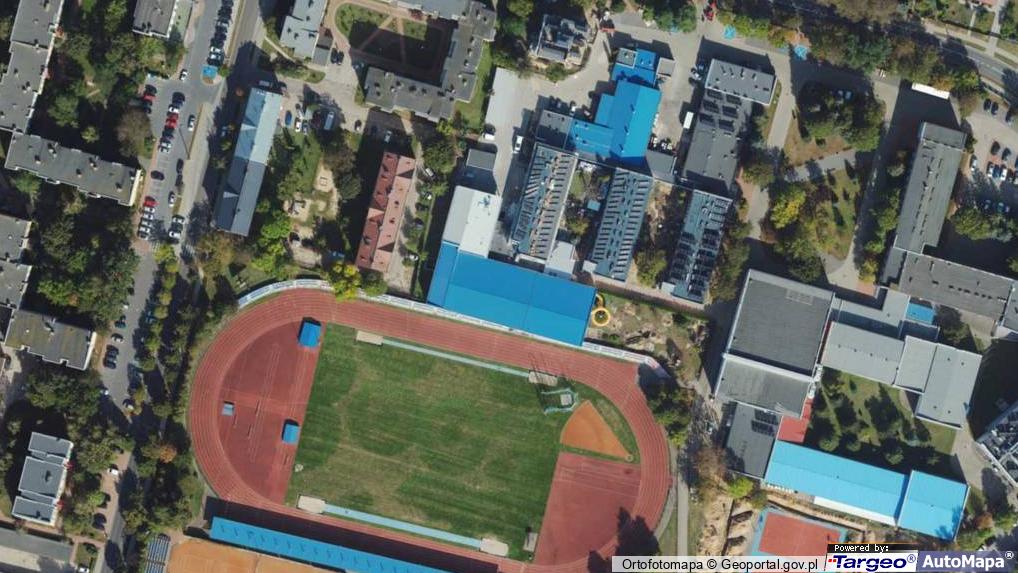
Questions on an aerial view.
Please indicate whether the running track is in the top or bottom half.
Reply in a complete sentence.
Seen from above, the running track lies in the bottom half of the view.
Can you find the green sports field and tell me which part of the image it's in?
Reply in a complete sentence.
The green sports field is in the bottom part of the image.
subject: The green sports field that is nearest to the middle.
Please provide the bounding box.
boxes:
[284,322,638,565]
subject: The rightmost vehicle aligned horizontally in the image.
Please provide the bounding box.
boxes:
[911,84,949,99]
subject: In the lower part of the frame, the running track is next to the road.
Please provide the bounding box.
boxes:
[188,288,671,573]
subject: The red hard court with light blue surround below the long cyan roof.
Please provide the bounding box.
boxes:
[746,502,849,573]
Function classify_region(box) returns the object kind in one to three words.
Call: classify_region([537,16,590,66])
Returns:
house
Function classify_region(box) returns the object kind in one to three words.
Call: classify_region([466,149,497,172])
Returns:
house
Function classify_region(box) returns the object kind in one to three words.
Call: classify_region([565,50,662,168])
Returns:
building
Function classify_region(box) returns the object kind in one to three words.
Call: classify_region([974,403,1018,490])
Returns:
building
